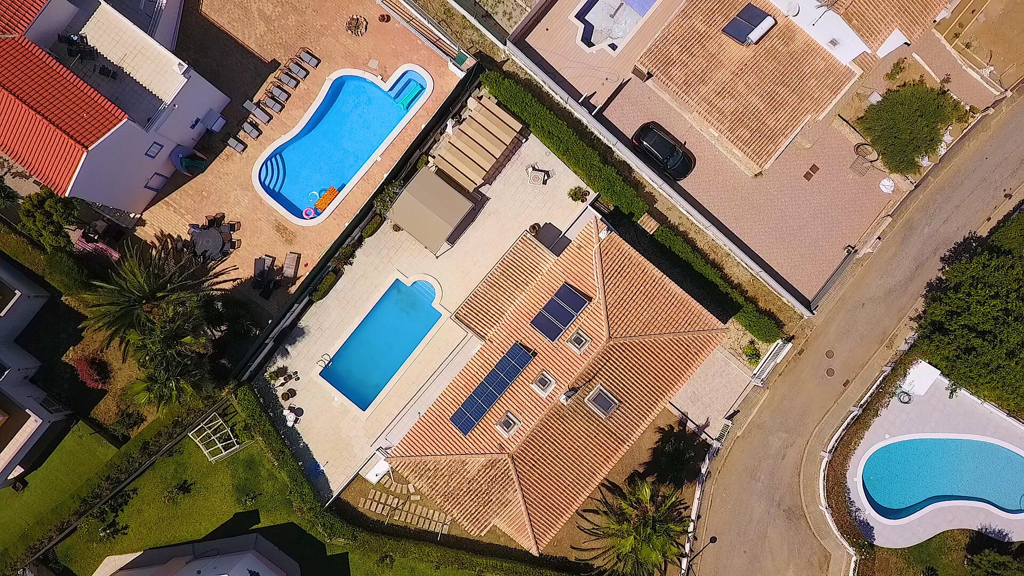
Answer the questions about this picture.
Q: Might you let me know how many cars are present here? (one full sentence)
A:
In total, 1 car can be seen.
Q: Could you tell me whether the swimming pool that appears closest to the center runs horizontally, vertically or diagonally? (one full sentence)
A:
Seen from above, the swimming pool that appears closest to the center lies diagonally.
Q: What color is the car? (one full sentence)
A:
In this view, the car is black.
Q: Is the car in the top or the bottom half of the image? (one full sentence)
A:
The car is in the top half of the image.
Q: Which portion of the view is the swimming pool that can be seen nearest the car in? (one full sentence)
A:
The swimming pool that can be seen nearest the car is located in the top region of the scene.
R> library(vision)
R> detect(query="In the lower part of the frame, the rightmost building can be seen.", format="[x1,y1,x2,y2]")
[890,359,941,396]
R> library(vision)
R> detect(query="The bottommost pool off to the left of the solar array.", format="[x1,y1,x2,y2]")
[309,269,450,421]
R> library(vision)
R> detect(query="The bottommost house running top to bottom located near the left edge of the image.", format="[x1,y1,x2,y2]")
[0,341,73,502]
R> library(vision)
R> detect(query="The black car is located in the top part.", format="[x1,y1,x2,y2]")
[630,119,695,182]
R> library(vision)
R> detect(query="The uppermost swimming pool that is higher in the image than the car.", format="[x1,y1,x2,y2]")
[569,0,665,59]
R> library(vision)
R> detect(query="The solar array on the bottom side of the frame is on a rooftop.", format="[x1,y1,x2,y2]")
[450,341,534,435]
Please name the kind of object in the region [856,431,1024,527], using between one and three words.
swimming pool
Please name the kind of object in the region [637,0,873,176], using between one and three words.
house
